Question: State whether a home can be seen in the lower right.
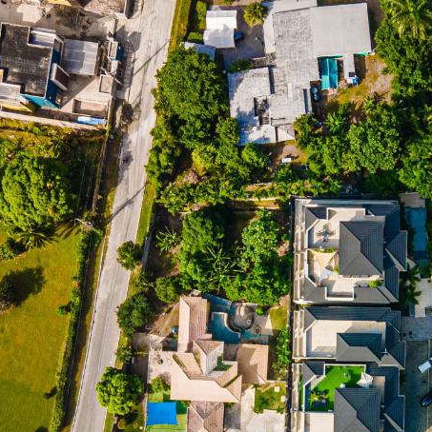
Yes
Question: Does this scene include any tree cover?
Yes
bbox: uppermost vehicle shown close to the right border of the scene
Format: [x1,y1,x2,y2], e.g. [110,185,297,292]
[417,356,432,374]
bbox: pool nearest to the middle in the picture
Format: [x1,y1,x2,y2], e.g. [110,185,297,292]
[206,294,231,312]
